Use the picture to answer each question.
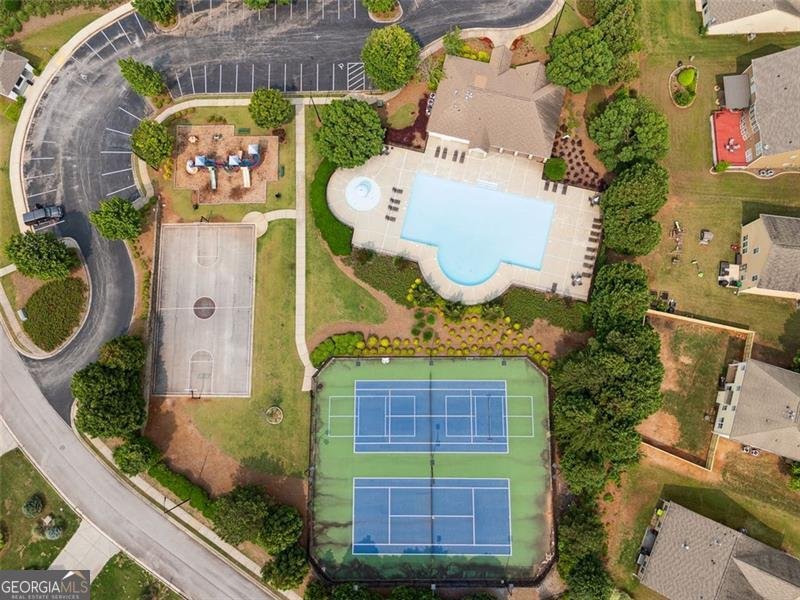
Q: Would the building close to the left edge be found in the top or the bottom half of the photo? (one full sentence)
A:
It is in the top half that the building close to the left edge appears.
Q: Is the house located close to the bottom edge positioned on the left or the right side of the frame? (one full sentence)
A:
The house located close to the bottom edge appears in the right half of the scene.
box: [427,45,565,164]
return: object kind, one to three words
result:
building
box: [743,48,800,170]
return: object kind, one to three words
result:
house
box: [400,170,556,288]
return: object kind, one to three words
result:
swimming pool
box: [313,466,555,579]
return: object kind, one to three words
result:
tennis court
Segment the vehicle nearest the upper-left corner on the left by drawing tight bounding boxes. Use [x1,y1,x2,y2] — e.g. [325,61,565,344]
[24,206,63,225]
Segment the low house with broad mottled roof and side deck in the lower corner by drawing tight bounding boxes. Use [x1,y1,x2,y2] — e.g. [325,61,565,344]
[638,499,800,600]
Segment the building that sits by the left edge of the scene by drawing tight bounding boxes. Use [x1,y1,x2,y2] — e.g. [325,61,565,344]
[0,49,37,102]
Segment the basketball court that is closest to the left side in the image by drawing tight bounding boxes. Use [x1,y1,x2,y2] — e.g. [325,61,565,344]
[152,223,255,397]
